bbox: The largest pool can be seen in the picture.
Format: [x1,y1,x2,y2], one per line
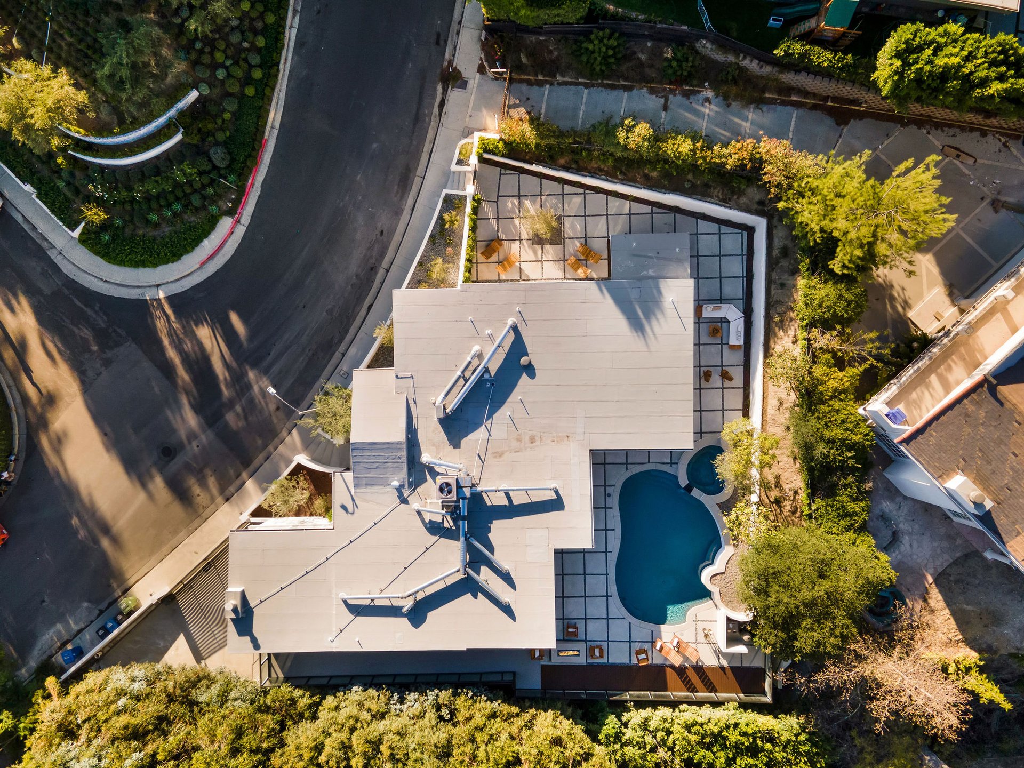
[610,464,721,631]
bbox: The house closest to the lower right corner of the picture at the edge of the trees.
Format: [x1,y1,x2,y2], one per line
[847,232,1024,589]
